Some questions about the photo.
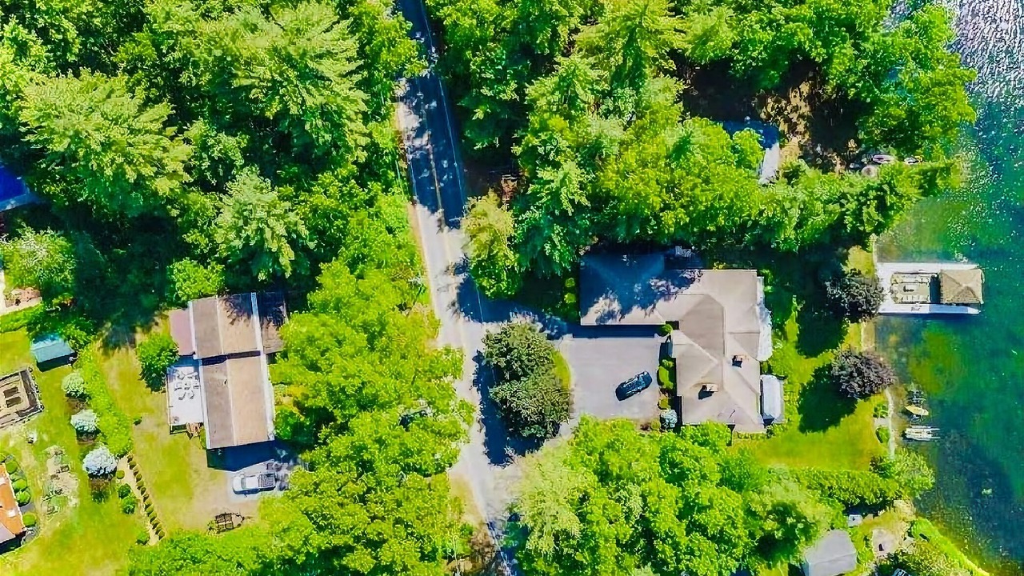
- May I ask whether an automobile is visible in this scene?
Yes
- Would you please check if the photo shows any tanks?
No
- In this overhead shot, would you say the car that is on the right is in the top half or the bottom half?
bottom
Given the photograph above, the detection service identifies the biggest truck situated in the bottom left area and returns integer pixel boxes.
[231,473,277,495]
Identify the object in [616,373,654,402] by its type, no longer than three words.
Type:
car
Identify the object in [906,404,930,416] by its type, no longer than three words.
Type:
boat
